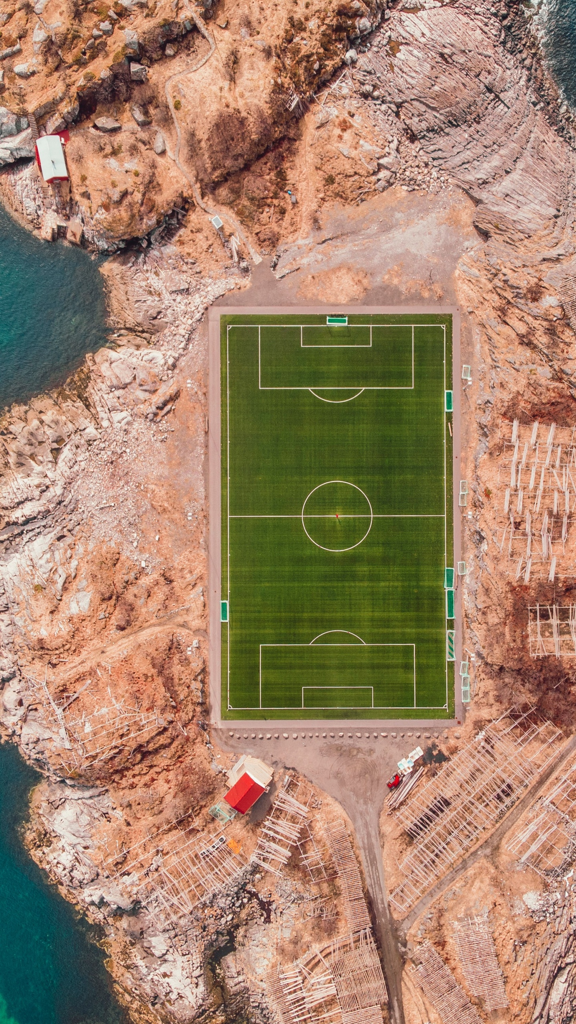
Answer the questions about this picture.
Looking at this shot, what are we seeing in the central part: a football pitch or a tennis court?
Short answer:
football pitch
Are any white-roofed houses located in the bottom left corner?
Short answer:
No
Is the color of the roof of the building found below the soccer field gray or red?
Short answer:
red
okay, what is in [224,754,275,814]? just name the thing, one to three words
building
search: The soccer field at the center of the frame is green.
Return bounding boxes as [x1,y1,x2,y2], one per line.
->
[209,306,462,728]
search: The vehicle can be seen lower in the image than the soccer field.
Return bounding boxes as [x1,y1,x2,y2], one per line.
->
[386,773,401,788]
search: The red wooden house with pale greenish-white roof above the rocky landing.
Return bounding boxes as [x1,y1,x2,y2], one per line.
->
[35,134,70,183]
